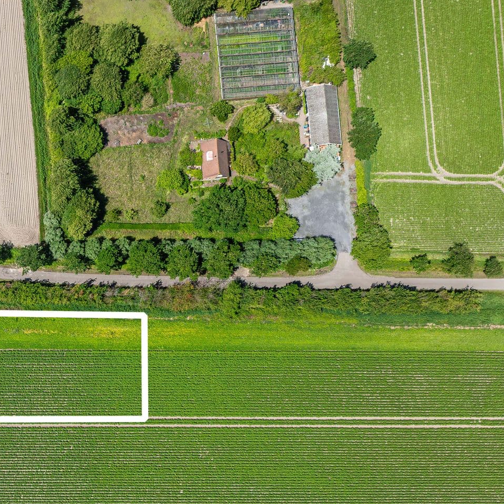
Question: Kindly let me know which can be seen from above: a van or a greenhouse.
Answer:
greenhouse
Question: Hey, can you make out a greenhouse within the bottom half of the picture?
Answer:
No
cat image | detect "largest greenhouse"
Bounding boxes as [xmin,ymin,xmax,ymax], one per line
[212,6,302,102]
